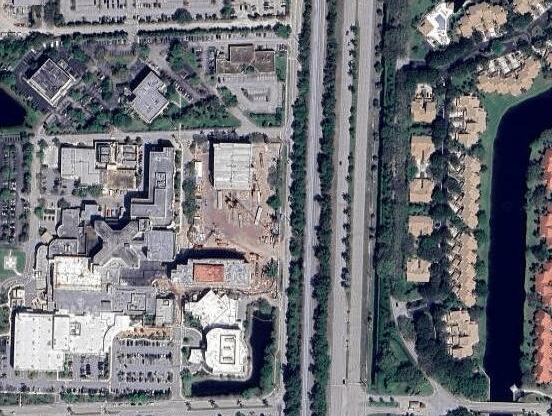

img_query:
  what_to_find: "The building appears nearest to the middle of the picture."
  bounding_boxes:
[213,144,251,190]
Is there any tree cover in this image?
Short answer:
Yes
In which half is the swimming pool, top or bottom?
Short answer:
top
